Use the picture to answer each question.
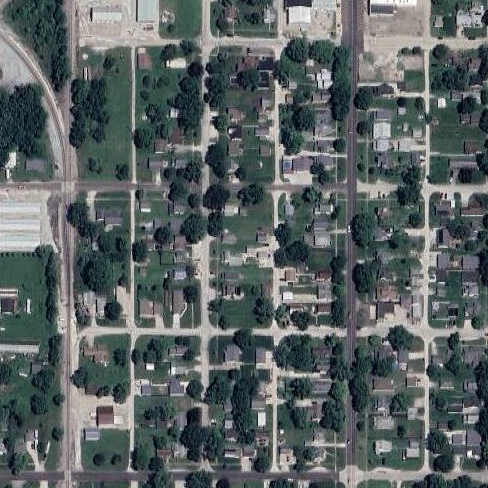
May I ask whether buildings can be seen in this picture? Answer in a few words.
Yes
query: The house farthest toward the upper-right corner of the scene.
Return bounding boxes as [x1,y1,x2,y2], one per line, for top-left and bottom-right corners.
[457,9,485,31]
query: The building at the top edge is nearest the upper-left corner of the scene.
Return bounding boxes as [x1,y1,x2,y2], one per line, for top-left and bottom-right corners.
[91,7,122,24]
